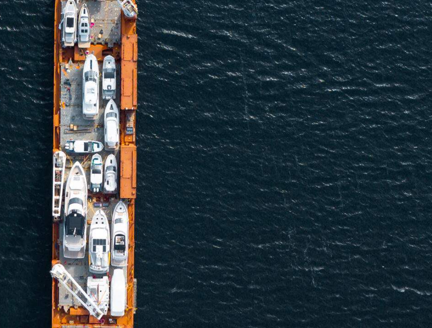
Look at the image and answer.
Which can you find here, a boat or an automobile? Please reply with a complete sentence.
Looking from above, you can make out a boat.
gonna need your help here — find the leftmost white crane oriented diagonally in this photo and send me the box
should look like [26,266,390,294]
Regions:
[52,264,104,319]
